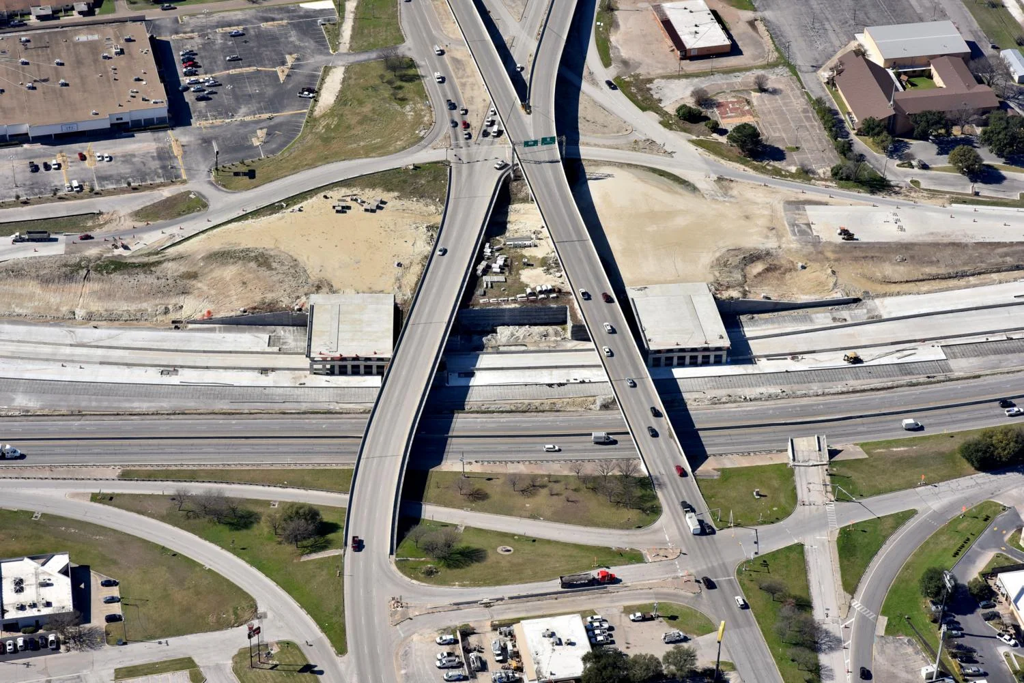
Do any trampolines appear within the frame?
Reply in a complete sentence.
No, there's no trampoline here.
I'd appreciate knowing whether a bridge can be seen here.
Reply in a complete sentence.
Yes, there's a bridge down there.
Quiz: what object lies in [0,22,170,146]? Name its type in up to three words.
building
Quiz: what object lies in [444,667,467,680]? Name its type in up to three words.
vehicle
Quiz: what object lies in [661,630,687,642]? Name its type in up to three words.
vehicle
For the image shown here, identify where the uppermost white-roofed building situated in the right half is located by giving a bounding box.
[651,0,731,60]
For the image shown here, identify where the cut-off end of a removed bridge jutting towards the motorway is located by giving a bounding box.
[789,433,830,467]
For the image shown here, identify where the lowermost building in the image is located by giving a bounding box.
[513,614,600,683]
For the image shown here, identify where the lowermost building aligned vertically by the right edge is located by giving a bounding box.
[991,564,1024,632]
